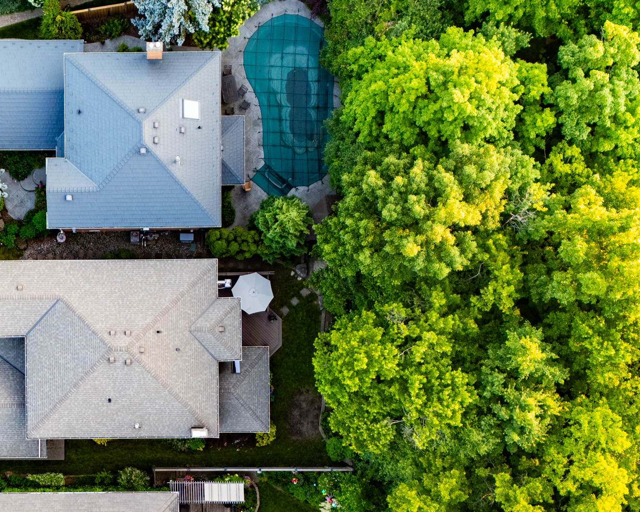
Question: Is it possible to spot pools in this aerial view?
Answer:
Yes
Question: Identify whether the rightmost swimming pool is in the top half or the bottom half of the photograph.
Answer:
top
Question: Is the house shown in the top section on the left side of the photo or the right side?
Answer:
left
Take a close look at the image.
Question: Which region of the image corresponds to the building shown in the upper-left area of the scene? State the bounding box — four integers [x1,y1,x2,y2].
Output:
[0,38,247,238]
